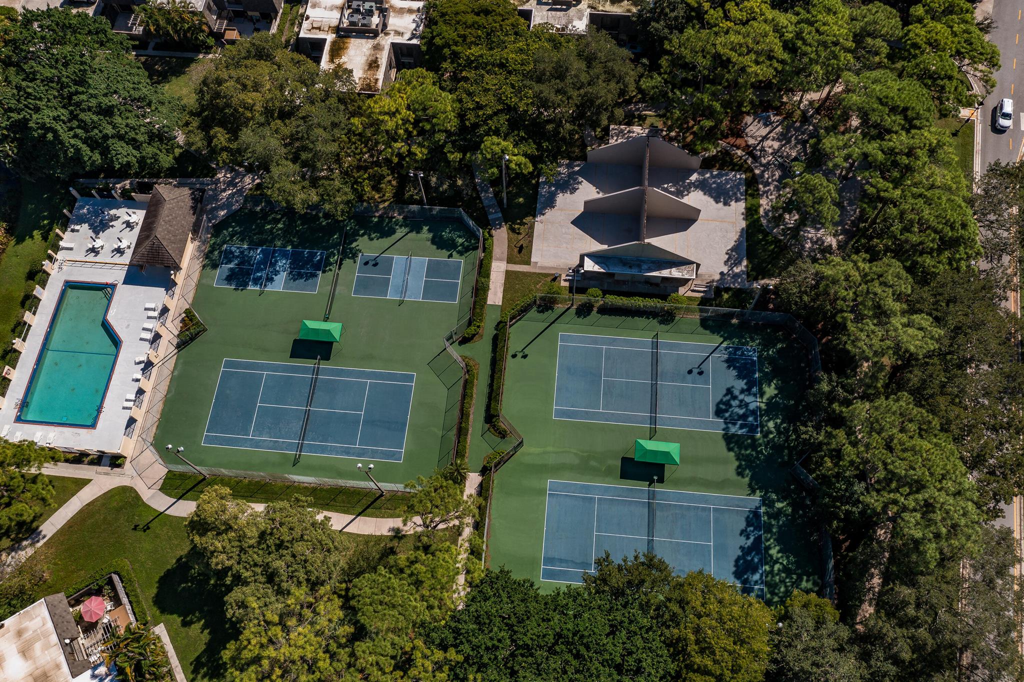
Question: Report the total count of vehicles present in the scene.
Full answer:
The picture shows just 1 vehicle.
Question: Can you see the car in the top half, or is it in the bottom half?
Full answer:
The top half of the photo is where the car is.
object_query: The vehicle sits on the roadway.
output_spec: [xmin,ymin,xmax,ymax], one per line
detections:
[997,98,1018,131]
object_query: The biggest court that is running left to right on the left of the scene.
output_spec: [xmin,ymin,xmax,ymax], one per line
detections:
[202,359,415,462]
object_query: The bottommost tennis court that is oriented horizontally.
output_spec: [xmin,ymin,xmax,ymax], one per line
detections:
[542,480,764,595]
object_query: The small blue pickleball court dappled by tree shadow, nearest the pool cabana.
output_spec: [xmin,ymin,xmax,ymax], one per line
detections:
[214,245,326,293]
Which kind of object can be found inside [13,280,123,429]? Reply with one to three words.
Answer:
swimming pool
